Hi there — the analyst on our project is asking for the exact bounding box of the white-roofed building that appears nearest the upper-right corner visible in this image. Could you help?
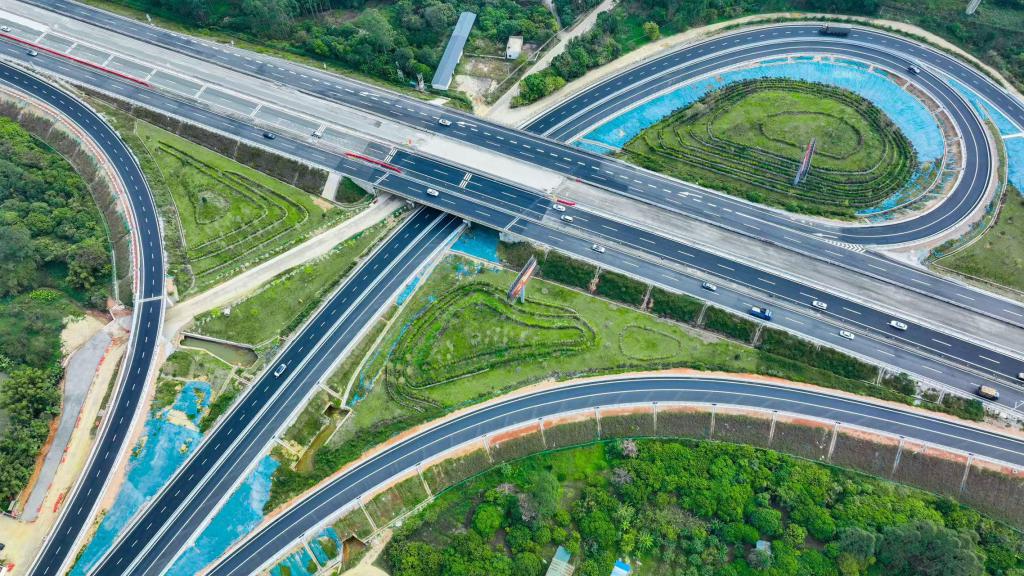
[507,35,523,58]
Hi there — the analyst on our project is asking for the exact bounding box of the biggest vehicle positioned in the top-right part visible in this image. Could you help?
[817,25,852,37]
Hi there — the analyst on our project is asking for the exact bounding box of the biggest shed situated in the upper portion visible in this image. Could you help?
[432,12,476,94]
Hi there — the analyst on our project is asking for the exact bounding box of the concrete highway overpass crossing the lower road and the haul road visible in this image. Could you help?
[355,94,633,265]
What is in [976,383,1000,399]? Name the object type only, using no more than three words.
vehicle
